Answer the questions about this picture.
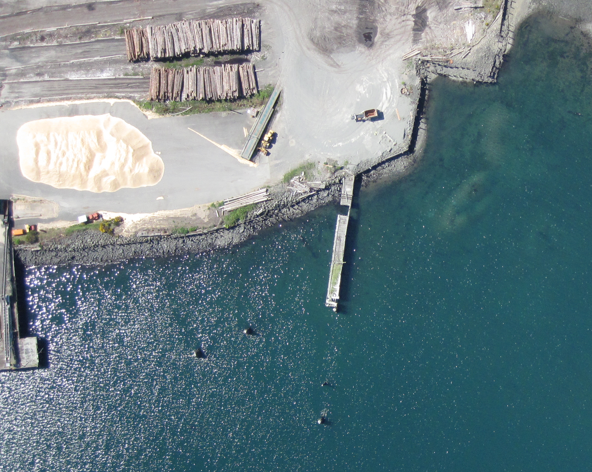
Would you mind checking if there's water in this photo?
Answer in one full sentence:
Yes, the picture does contain water.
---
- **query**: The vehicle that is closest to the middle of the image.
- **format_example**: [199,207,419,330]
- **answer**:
[259,127,277,158]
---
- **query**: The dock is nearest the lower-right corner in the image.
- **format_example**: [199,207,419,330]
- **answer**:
[325,175,356,307]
